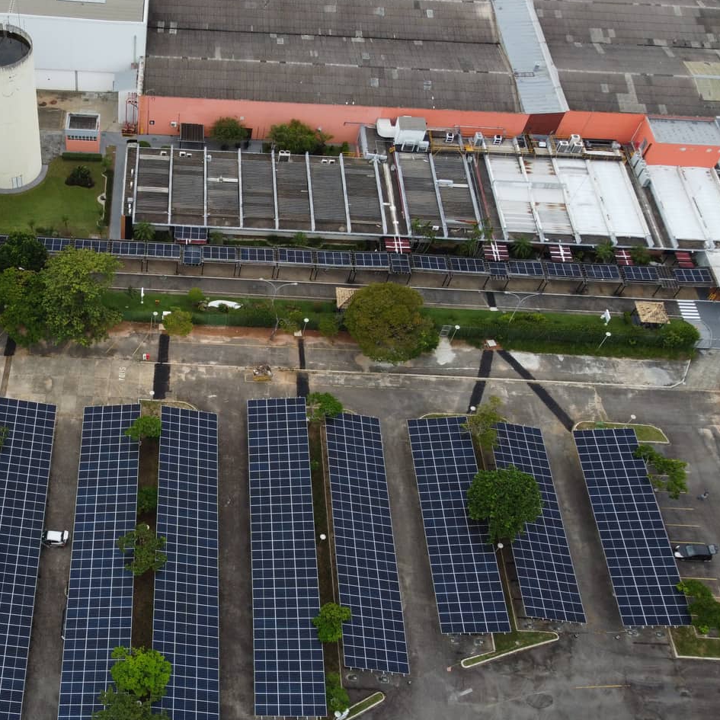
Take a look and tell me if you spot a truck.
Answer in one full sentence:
No, there's no truck here.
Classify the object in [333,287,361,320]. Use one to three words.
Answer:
gazebo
